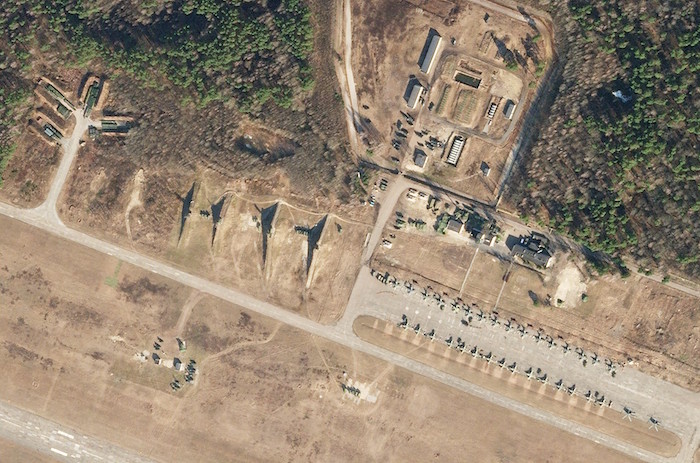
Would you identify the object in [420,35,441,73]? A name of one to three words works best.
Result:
building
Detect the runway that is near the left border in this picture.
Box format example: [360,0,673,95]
[0,402,157,463]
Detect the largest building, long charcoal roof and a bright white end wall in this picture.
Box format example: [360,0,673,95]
[511,244,552,265]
